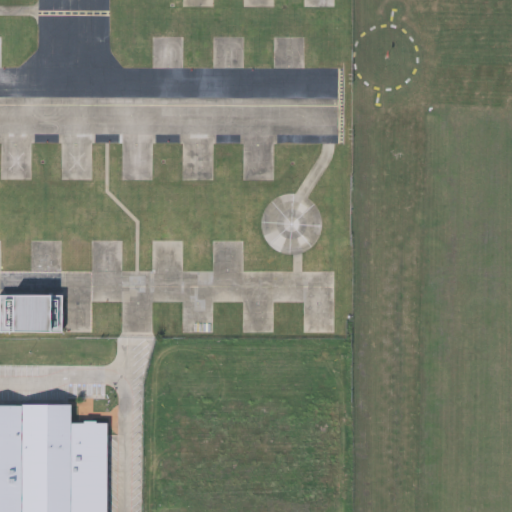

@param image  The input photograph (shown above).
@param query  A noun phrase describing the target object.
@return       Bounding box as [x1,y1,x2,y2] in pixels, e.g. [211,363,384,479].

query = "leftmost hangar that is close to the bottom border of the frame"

[0,405,72,512]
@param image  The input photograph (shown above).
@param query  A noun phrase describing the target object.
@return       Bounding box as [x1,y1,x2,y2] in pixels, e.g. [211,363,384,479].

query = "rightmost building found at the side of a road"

[72,421,108,512]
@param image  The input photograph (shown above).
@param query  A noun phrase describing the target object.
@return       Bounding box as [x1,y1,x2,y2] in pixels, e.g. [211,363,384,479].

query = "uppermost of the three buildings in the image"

[0,294,63,333]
